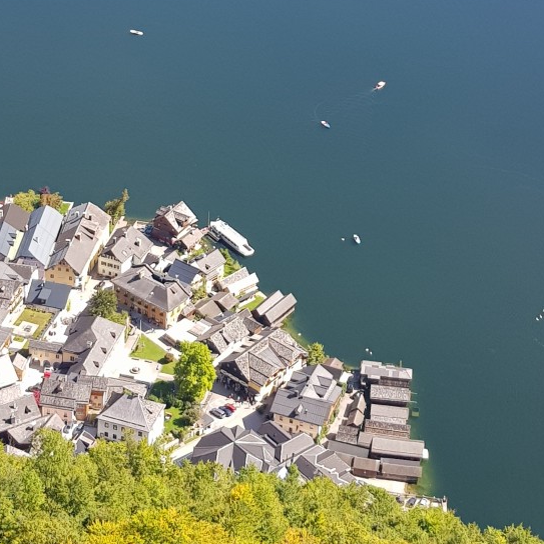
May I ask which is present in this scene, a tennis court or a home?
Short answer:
home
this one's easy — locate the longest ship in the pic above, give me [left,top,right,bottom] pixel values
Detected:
[208,214,253,257]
